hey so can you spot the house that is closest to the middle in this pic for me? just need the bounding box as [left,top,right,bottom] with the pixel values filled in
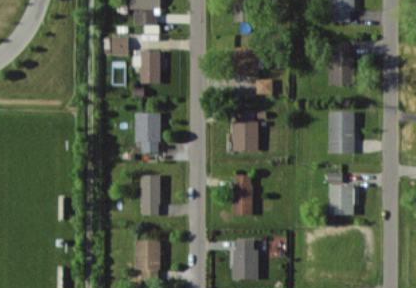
[229,120,260,152]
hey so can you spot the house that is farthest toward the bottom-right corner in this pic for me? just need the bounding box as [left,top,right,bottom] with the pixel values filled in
[329,184,355,216]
